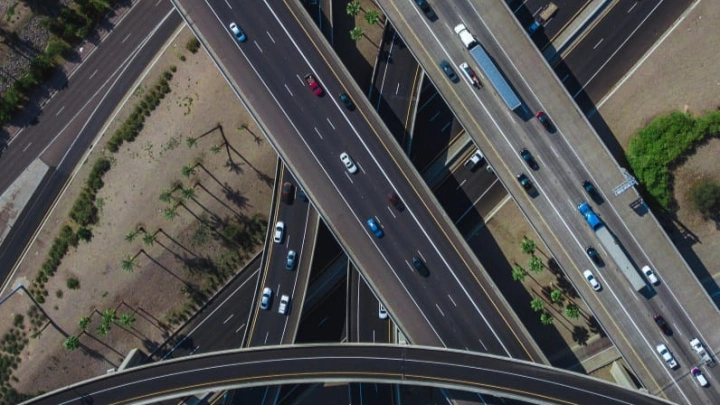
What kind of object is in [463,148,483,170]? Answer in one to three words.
vehicle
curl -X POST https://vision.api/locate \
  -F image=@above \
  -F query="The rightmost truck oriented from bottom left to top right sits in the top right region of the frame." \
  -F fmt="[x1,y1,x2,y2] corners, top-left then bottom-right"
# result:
[529,0,560,30]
